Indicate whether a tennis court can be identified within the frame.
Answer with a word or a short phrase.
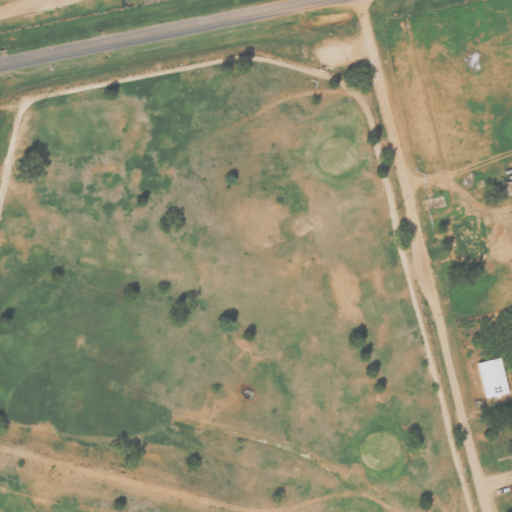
No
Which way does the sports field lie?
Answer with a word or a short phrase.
from side to side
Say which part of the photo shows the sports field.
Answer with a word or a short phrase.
bottom left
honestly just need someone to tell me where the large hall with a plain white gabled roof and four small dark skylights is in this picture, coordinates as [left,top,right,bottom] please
[478,358,511,399]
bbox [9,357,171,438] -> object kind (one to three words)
sports field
